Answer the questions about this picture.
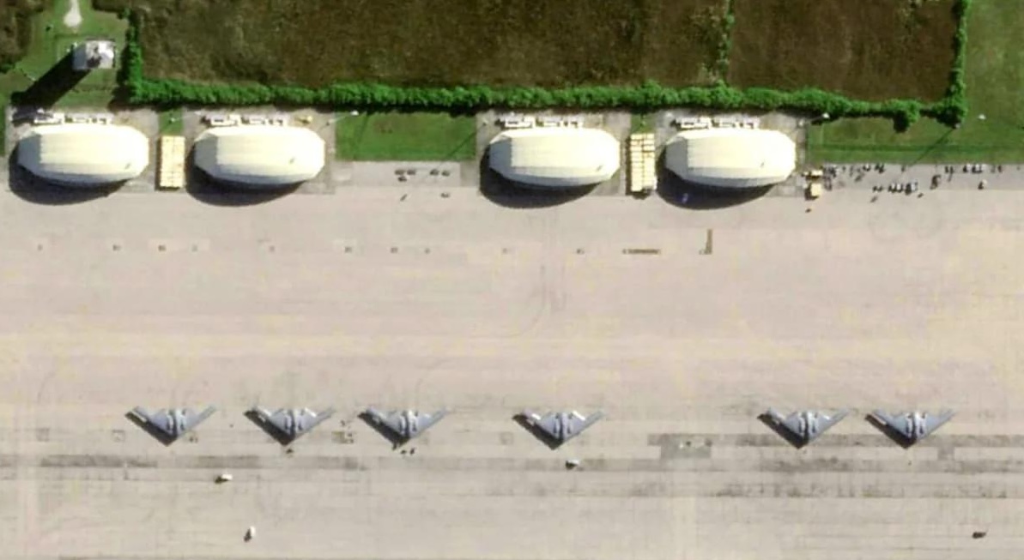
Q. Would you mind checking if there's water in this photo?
No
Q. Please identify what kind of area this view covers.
airport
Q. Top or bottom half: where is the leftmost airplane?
bottom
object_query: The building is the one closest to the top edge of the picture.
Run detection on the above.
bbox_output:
[72,38,113,71]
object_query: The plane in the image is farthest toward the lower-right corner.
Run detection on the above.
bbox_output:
[875,406,956,440]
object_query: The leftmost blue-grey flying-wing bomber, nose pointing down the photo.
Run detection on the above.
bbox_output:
[133,403,219,438]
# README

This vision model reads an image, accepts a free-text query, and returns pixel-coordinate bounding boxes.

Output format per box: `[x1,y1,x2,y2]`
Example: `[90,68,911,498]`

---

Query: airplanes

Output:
[521,407,605,442]
[875,406,956,440]
[365,403,449,438]
[133,403,219,438]
[767,407,849,441]
[250,402,335,438]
